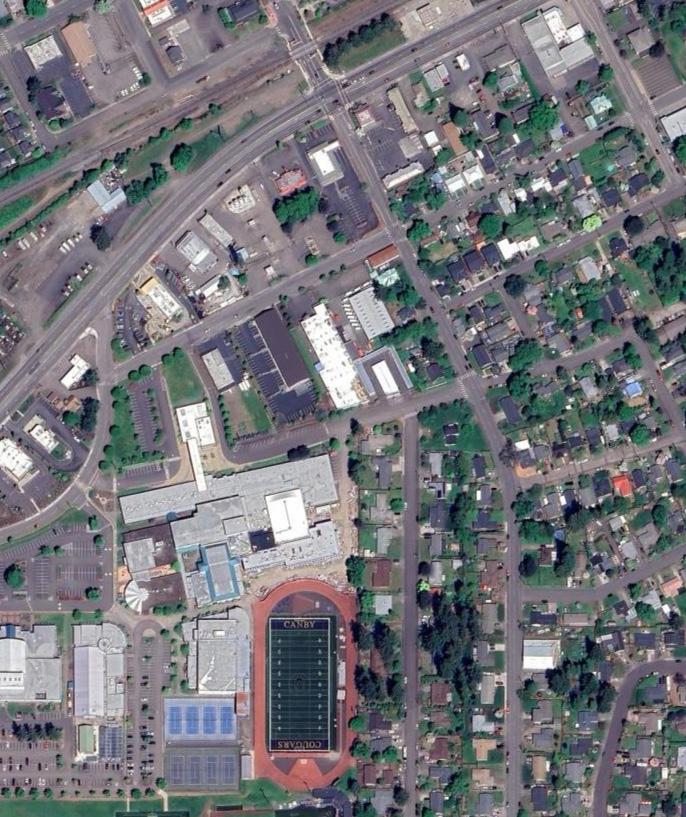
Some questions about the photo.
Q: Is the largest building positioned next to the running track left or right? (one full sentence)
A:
You can find the largest building positioned next to the running track on the left side of the picture.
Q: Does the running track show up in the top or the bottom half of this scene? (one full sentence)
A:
The bottom half of the photo is where the running track is.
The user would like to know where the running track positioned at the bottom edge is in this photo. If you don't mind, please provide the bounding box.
[253,579,357,792]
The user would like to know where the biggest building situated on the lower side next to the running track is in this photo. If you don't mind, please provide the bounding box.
[119,454,338,607]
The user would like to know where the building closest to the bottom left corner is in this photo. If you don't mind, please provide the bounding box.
[76,722,98,761]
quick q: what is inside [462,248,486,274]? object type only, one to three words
house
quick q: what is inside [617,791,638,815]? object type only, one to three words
house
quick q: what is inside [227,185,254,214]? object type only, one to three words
building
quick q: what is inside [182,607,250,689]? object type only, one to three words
building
